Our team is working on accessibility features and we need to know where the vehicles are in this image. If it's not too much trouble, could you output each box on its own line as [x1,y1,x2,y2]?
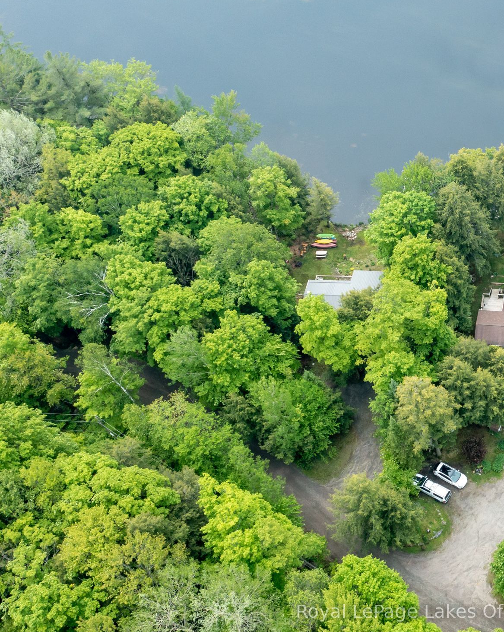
[410,471,454,504]
[431,462,469,491]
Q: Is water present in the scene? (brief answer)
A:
Yes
